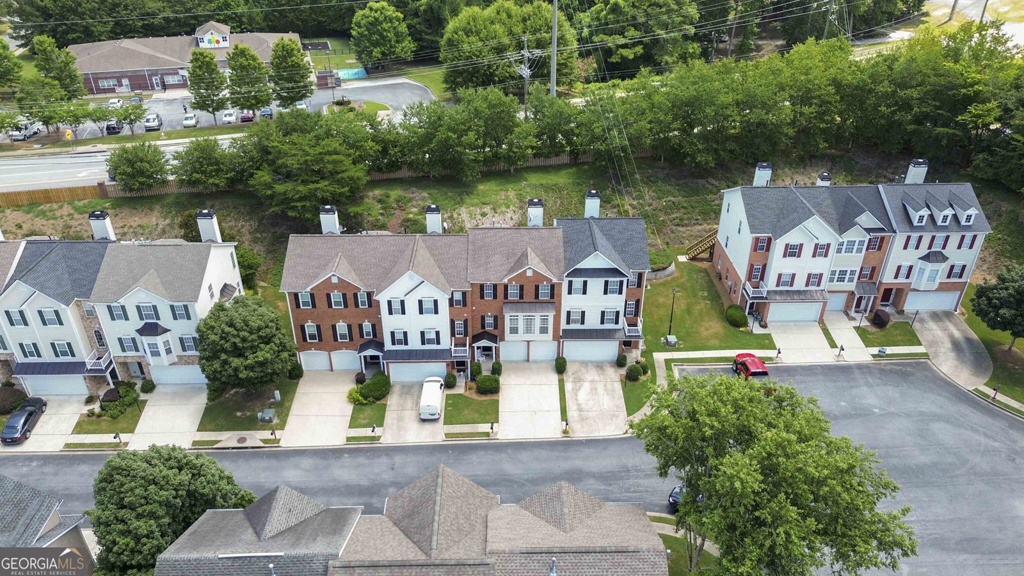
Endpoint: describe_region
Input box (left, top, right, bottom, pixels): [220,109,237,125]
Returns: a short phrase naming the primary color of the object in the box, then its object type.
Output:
white car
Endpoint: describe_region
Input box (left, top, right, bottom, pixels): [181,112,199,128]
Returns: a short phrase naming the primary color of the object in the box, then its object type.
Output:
white car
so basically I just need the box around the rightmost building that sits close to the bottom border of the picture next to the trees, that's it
[489,481,671,576]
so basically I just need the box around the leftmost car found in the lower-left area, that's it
[2,397,49,441]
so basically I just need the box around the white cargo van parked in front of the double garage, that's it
[417,374,446,418]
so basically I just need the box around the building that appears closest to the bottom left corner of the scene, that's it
[0,473,100,576]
